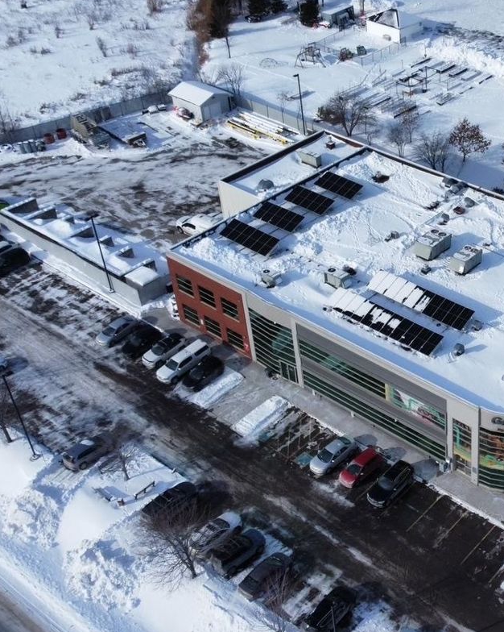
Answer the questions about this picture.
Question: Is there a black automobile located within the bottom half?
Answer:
Yes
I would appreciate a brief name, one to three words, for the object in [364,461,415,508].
car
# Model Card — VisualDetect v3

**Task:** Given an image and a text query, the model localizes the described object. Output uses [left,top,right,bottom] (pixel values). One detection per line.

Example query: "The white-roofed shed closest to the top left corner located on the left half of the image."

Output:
[157,78,233,119]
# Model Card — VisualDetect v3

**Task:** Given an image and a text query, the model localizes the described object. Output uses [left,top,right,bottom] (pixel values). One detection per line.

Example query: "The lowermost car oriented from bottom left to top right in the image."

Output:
[294,585,356,632]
